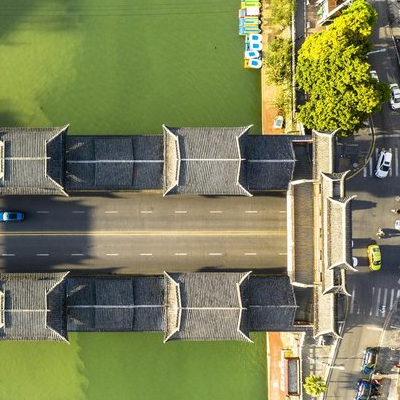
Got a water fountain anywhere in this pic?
No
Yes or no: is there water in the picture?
Yes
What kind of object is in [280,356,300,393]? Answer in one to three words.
building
